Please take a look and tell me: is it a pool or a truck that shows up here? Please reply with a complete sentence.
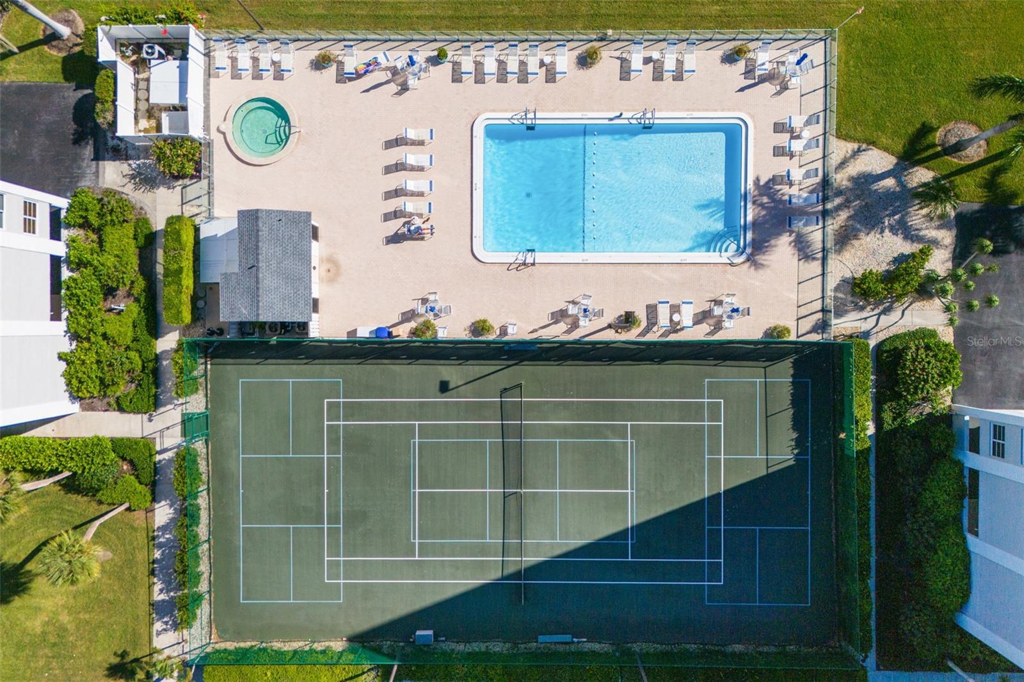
The image shows a pool.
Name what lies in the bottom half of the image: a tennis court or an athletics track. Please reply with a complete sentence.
There is a tennis court in the bottom half of the image.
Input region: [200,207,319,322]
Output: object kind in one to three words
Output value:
building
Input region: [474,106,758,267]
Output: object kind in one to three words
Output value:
swimming pool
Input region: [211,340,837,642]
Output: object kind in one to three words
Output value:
tennis court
